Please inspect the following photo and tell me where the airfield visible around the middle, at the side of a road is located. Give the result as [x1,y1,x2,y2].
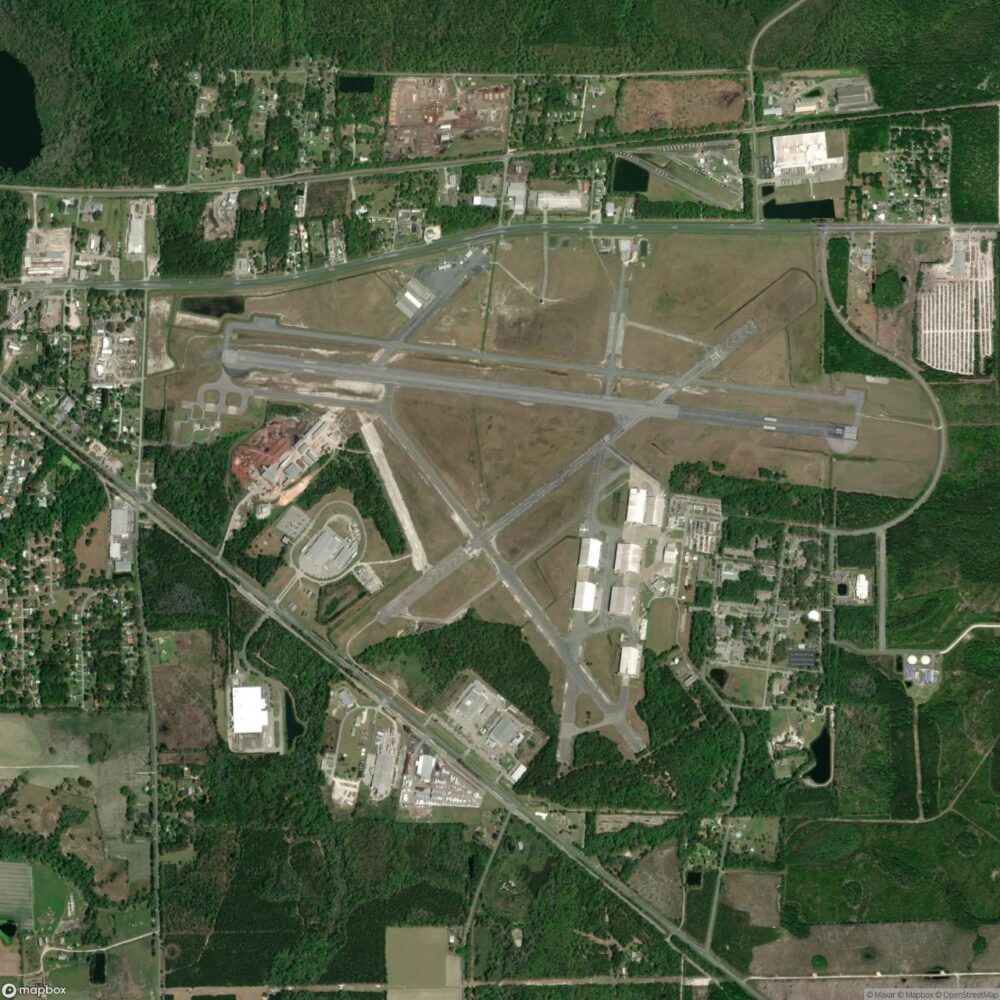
[147,234,940,769]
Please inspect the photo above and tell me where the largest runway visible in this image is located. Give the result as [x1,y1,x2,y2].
[238,356,678,416]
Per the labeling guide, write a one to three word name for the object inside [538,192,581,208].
building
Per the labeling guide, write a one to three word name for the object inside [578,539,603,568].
hangar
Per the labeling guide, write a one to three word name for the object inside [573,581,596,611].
hangar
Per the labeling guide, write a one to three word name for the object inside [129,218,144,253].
building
